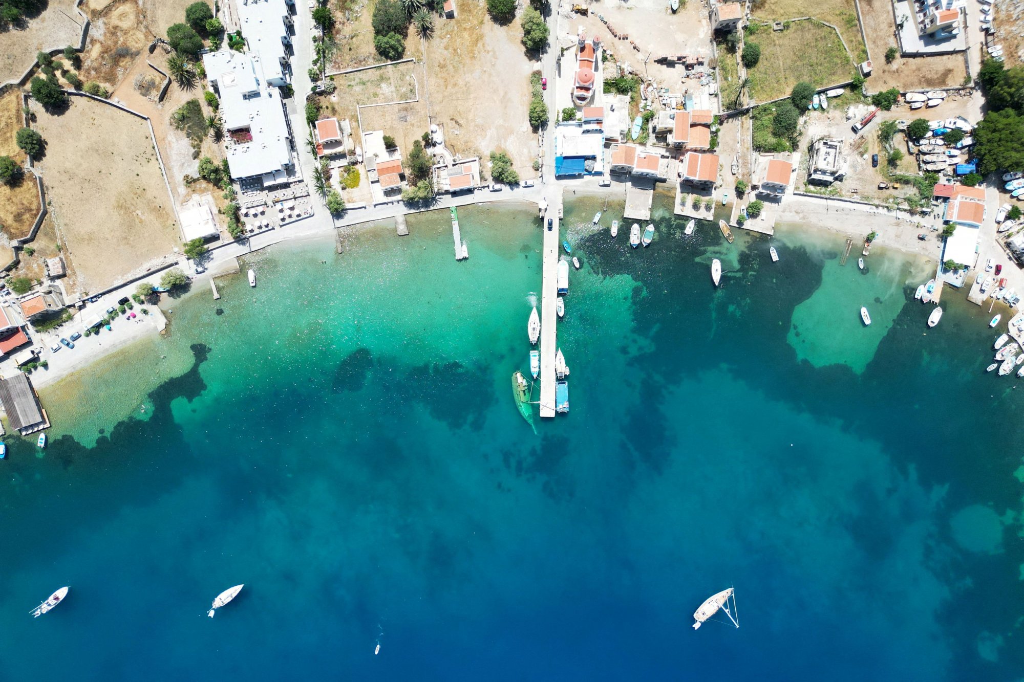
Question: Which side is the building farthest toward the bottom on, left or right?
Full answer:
You can find the building farthest toward the bottom on the left side of the picture.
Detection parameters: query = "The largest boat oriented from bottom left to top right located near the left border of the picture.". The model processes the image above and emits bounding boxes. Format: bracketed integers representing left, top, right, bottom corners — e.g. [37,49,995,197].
[27,588,68,617]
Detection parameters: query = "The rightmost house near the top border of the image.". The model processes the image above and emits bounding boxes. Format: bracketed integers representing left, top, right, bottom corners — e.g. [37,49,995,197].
[902,0,968,46]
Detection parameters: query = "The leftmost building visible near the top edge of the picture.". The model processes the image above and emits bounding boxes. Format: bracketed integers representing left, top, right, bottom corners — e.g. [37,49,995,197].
[202,0,295,192]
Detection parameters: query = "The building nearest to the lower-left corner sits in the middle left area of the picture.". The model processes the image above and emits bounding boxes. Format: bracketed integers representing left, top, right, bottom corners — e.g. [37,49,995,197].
[0,373,54,435]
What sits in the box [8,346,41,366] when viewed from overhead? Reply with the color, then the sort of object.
white vehicle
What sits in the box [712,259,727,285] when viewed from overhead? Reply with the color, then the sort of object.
white boat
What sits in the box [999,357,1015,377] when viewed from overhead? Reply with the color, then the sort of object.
white boat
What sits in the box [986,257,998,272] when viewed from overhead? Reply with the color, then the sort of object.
white vehicle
